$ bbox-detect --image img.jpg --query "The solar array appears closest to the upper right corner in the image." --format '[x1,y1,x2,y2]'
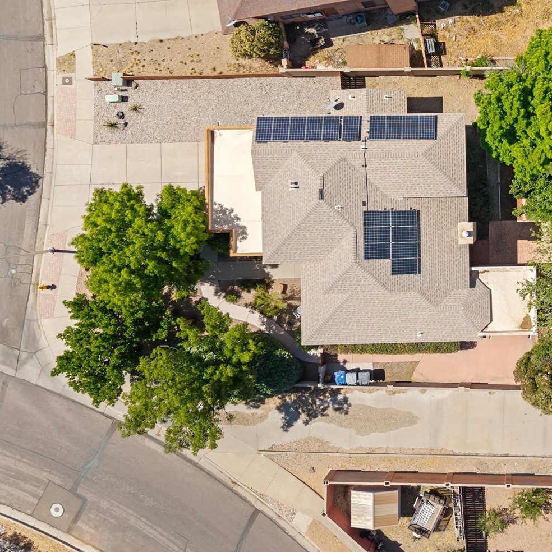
[369,116,435,139]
